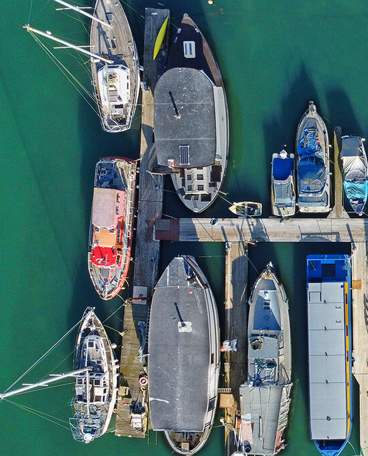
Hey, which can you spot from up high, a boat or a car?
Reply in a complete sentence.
This aerial view contains a boat.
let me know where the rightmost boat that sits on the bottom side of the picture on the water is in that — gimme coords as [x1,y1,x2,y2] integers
[308,256,358,456]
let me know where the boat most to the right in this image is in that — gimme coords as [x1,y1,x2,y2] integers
[341,136,368,217]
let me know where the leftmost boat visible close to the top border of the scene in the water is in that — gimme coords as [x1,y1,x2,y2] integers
[24,0,148,135]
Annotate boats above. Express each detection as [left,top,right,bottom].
[148,14,236,213]
[0,305,124,447]
[240,257,293,456]
[142,256,225,456]
[308,256,358,456]
[24,0,148,135]
[85,157,142,302]
[292,100,336,220]
[271,144,298,219]
[341,136,368,217]
[228,202,263,216]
